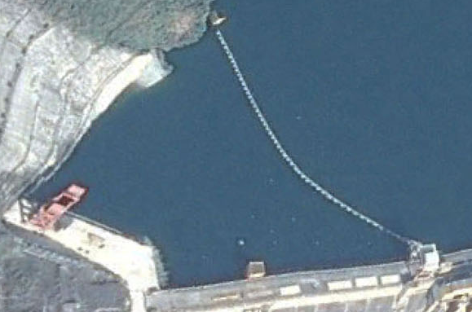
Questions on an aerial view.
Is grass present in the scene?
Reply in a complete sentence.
No, there is no grass in the image.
